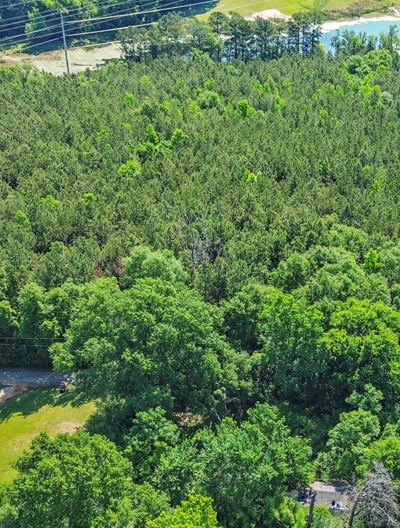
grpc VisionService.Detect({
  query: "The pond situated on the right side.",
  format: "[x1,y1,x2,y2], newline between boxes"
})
[179,22,400,76]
